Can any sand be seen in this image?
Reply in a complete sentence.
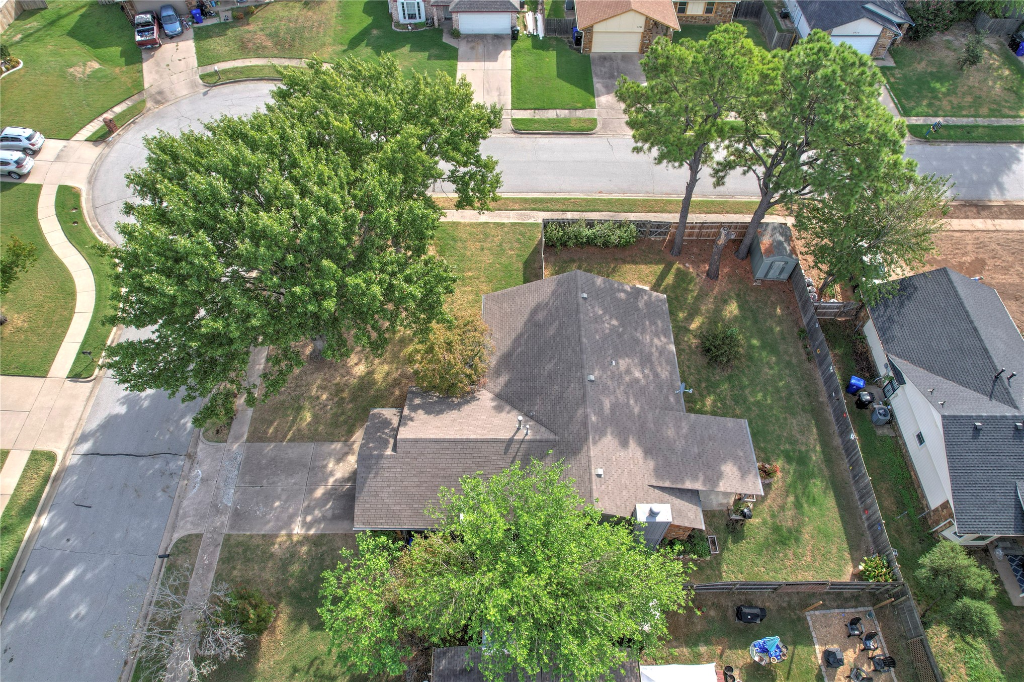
No, the picture contains no sand.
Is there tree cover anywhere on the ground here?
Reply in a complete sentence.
Yes, the picture does contain tree cover.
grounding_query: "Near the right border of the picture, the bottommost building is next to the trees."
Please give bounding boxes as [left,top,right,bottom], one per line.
[850,267,1024,551]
